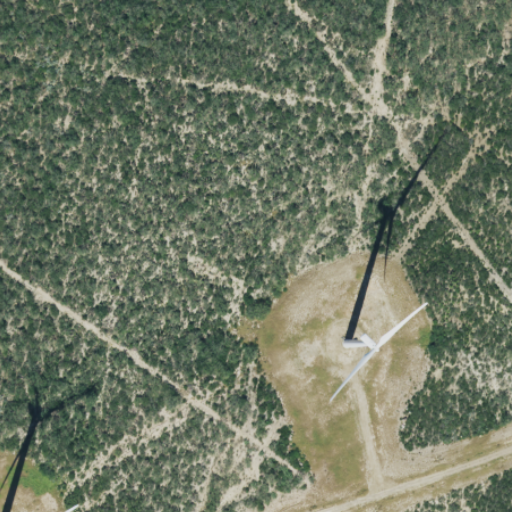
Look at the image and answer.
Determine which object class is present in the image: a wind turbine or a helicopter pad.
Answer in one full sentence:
Of the two, only a wind turbine appears.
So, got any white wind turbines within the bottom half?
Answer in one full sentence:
Yes, you'll find a white wind turbine within the bottom half.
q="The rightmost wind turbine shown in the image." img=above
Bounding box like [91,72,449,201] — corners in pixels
[330,303,427,400]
